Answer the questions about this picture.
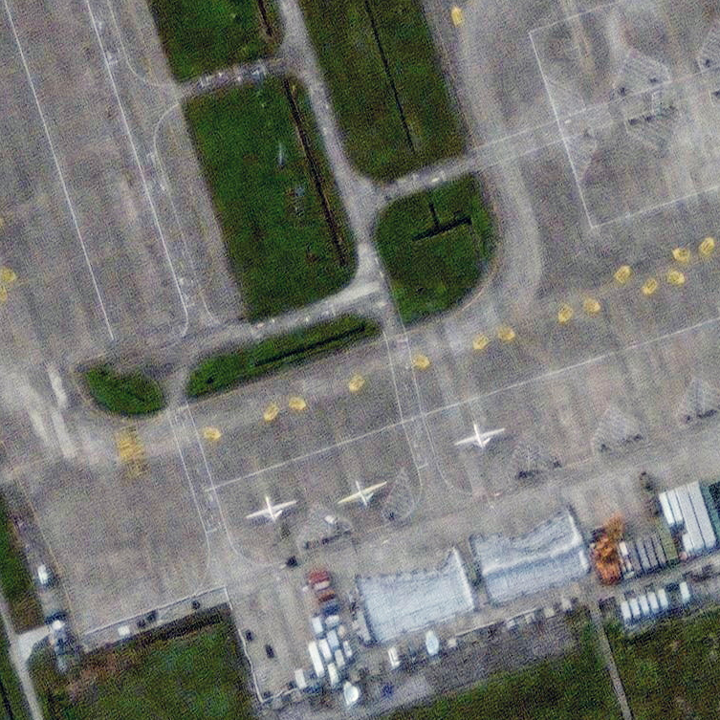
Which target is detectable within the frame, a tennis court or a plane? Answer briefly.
plane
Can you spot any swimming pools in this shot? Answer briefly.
No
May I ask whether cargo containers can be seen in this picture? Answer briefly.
Yes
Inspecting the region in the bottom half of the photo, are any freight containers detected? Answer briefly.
Yes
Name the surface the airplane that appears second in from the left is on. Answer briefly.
apron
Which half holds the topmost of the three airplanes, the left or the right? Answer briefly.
right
